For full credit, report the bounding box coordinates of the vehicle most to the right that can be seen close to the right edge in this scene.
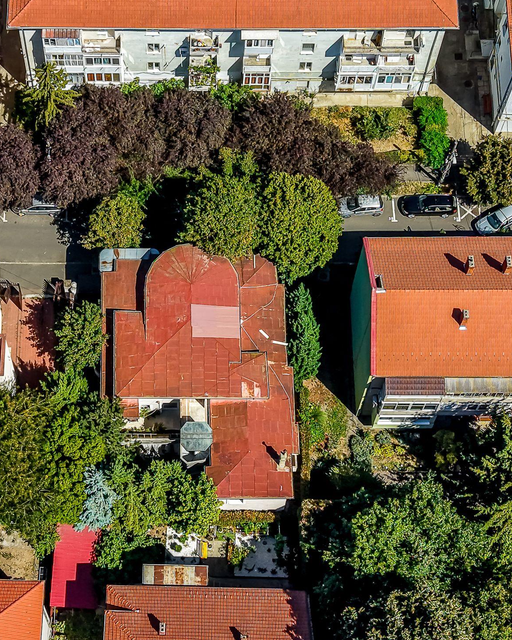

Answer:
[471,202,512,237]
